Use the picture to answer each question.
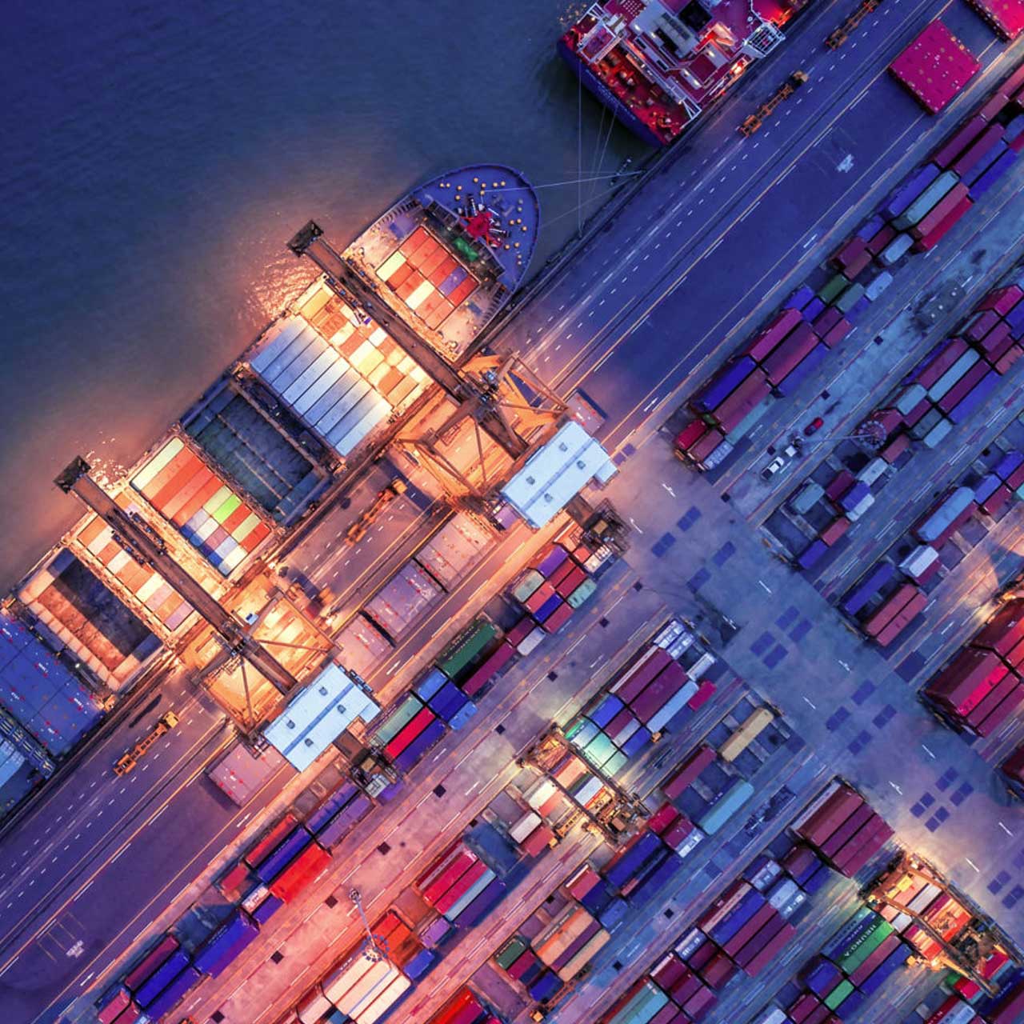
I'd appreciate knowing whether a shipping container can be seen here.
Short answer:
Yes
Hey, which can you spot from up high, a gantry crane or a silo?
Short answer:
gantry crane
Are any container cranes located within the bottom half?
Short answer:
Yes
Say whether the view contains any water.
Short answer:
Yes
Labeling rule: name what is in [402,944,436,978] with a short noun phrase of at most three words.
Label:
shipping container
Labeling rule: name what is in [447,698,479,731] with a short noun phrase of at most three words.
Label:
shipping container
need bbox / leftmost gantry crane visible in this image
[47,450,404,801]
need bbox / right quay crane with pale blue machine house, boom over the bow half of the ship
[280,211,637,563]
